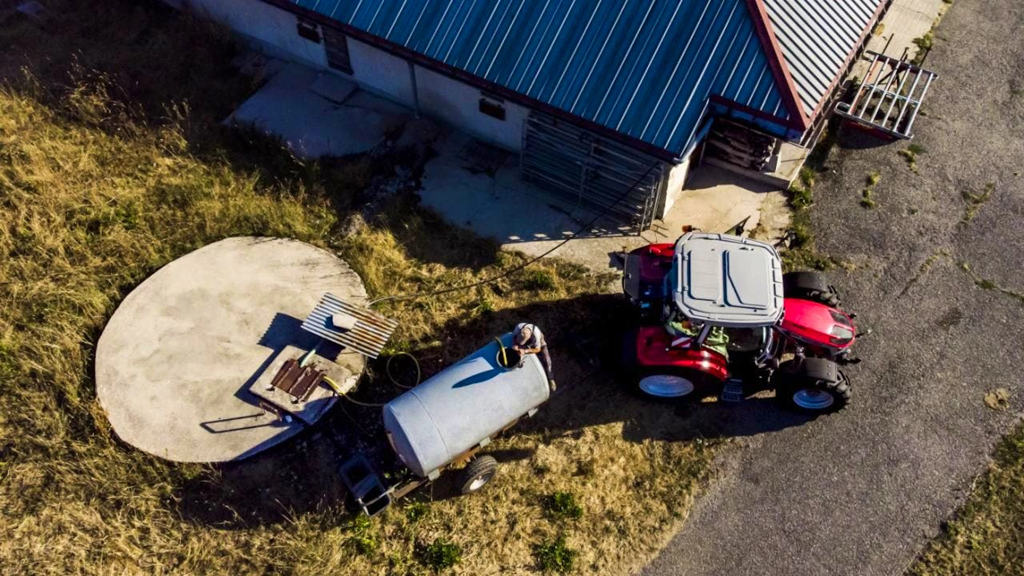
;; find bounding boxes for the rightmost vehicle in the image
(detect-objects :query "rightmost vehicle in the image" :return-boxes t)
[596,213,872,421]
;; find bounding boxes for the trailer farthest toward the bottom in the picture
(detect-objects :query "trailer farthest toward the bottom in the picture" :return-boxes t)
[368,337,577,505]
